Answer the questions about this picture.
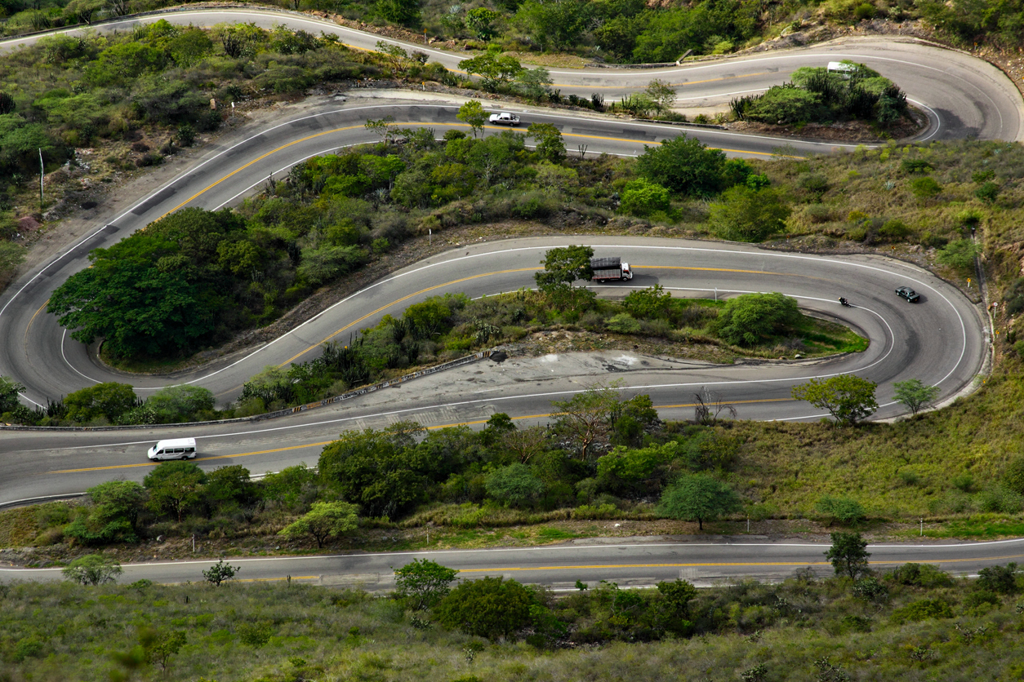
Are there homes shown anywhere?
No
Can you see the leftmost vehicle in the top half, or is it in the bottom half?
bottom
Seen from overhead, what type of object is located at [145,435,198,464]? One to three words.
vehicle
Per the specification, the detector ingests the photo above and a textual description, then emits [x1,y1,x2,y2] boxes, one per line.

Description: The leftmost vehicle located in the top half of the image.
[487,112,521,126]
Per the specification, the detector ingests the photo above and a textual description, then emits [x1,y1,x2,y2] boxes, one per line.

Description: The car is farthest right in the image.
[894,285,923,302]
